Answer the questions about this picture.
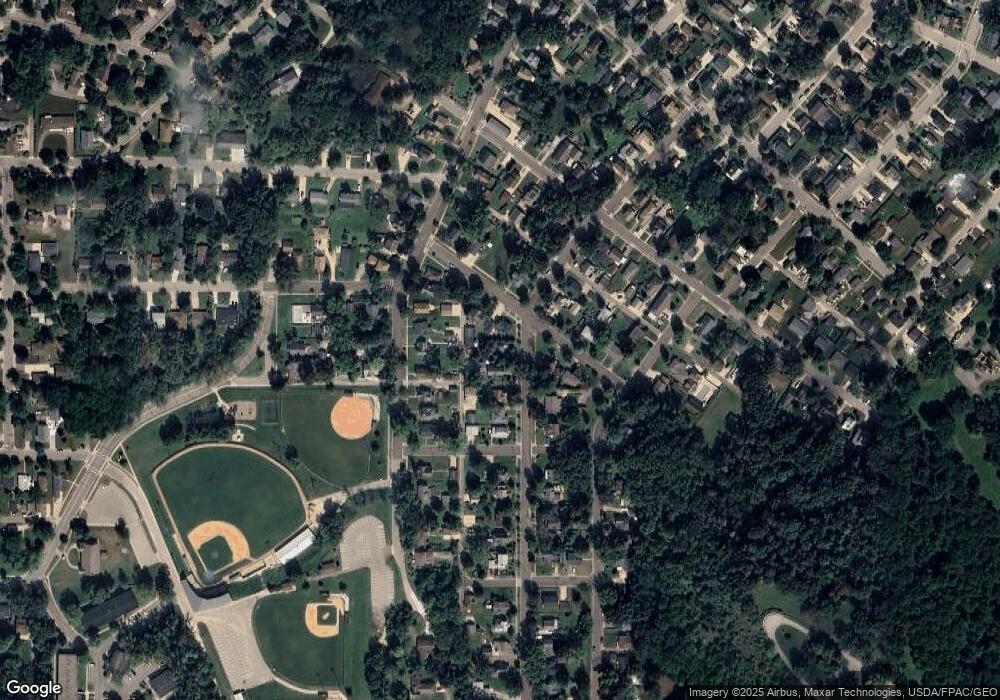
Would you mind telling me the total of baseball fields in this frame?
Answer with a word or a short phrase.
2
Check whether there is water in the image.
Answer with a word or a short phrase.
No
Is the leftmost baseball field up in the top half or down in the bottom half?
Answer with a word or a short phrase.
bottom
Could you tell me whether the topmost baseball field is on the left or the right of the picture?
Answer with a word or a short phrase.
left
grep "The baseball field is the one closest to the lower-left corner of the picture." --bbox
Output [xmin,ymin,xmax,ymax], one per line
[152,443,308,586]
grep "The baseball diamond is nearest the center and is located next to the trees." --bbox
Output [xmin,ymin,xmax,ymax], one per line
[281,391,380,488]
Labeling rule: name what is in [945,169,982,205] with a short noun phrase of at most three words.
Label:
building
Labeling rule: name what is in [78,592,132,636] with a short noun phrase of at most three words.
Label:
building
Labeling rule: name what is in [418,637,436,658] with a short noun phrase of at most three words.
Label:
house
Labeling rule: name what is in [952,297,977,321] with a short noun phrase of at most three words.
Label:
house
